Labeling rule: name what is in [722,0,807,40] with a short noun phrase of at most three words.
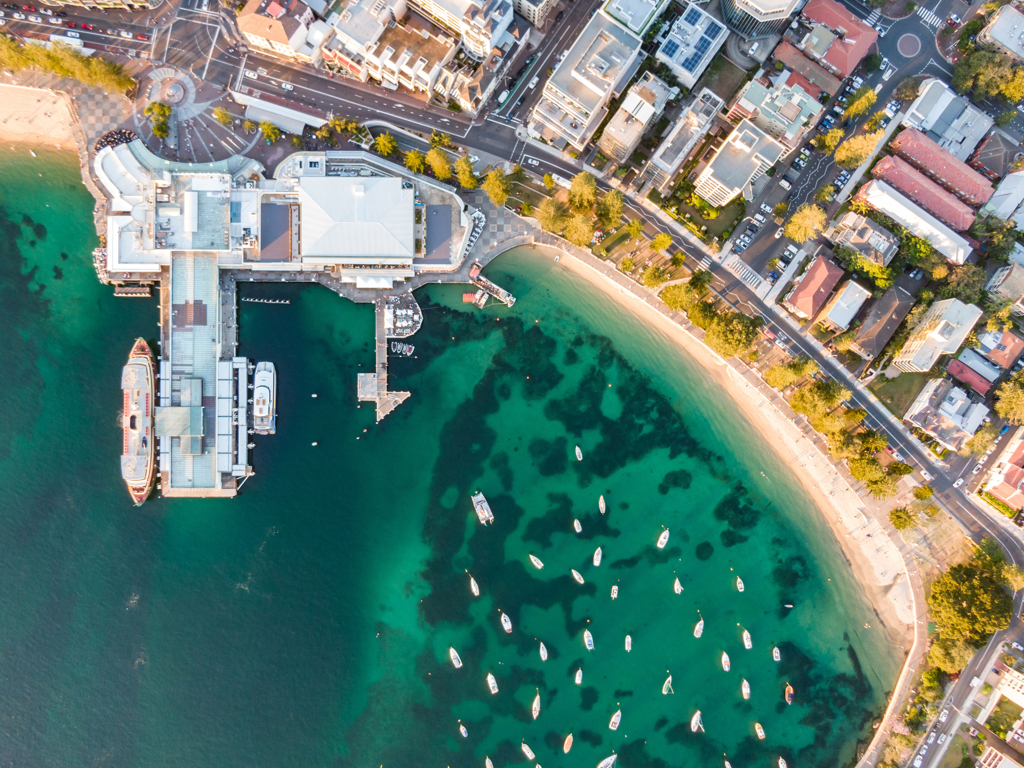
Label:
building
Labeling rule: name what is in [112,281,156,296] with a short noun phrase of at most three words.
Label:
pier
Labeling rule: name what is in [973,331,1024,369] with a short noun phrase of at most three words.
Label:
house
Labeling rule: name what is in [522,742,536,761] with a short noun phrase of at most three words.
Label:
boat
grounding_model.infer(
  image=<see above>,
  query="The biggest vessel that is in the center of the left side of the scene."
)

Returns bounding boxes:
[120,337,159,507]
